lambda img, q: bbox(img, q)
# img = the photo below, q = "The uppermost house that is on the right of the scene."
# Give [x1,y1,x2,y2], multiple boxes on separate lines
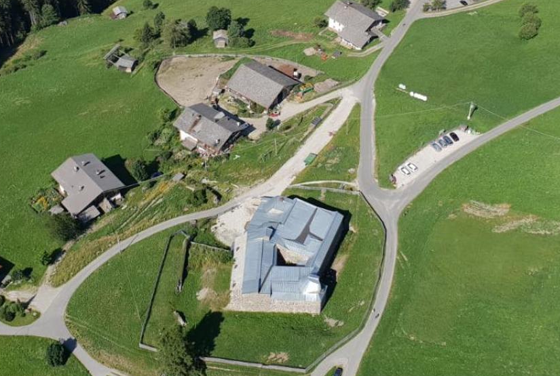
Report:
[322,0,392,44]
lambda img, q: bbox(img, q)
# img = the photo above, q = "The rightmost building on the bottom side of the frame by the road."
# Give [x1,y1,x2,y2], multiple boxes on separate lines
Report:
[242,195,344,311]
